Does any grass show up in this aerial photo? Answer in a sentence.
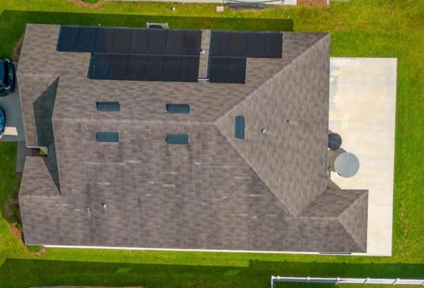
Yes, there is grass in the image.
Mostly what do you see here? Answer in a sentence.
For the most part, this view shows buildings.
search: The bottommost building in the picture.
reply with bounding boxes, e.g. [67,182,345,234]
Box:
[16,25,368,258]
